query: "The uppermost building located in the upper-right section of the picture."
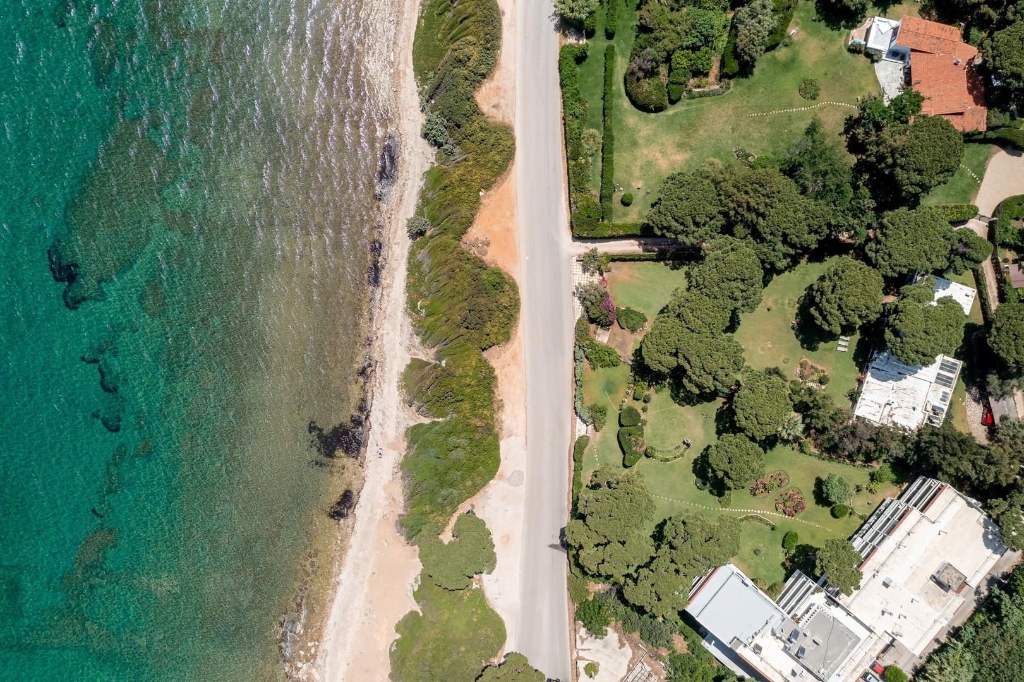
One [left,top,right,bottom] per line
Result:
[863,15,987,133]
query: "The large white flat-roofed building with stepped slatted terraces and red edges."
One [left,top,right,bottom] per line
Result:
[831,475,1006,658]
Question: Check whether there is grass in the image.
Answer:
Yes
